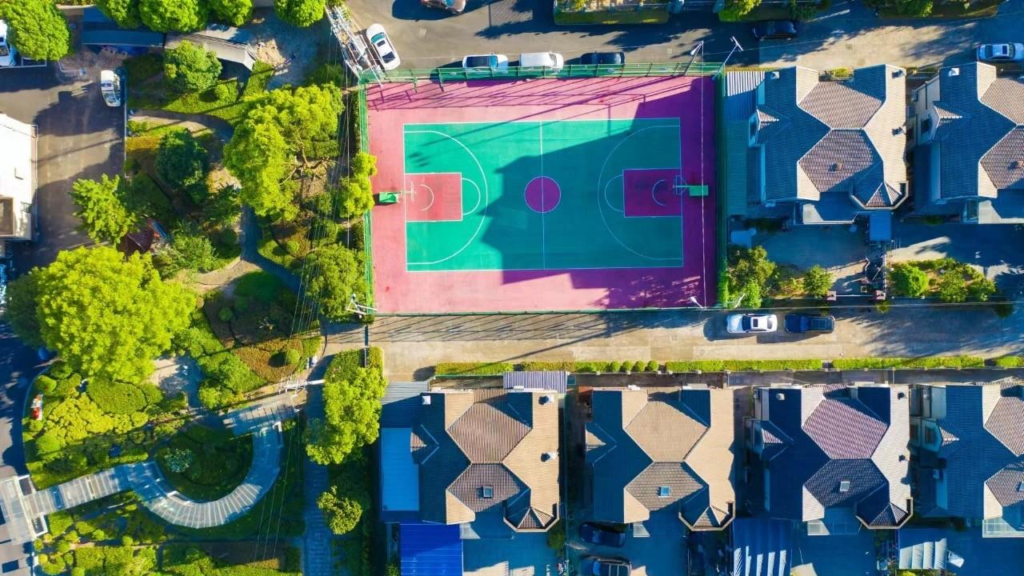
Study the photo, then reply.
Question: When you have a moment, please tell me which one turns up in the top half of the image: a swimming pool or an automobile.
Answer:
automobile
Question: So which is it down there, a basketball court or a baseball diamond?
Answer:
basketball court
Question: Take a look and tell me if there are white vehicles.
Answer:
Yes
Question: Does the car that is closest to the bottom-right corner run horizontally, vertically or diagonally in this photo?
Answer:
horizontally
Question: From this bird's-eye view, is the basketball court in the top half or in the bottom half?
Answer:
top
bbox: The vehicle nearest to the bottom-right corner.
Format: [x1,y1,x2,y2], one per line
[782,311,834,335]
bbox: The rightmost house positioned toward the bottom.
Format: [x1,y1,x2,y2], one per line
[910,382,1024,532]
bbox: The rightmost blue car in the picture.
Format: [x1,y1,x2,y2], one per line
[972,40,1024,64]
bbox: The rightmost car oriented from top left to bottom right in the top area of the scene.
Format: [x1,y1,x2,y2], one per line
[366,23,403,74]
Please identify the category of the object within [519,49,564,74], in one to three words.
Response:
vehicle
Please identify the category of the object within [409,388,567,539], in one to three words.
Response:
house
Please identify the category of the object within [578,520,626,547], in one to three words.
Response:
car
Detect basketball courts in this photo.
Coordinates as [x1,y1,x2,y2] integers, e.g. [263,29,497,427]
[367,75,720,315]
